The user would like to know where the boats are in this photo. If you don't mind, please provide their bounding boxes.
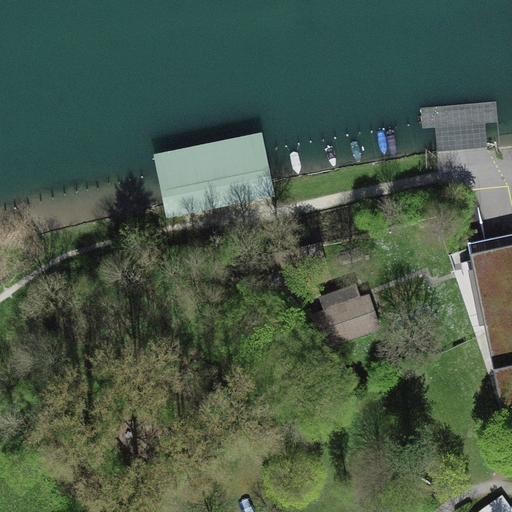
[386,128,398,157]
[378,130,388,154]
[352,140,361,162]
[328,146,336,166]
[290,150,301,174]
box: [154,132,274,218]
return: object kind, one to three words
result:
building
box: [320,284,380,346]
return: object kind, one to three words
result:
house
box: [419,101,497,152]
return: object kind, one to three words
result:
pier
